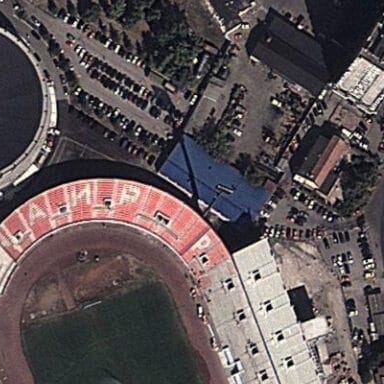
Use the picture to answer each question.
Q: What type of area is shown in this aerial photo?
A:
sports ground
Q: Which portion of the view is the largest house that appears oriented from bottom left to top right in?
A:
right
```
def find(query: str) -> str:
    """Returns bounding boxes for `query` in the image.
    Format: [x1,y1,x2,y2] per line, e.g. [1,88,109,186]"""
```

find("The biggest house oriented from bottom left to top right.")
[290,133,348,192]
